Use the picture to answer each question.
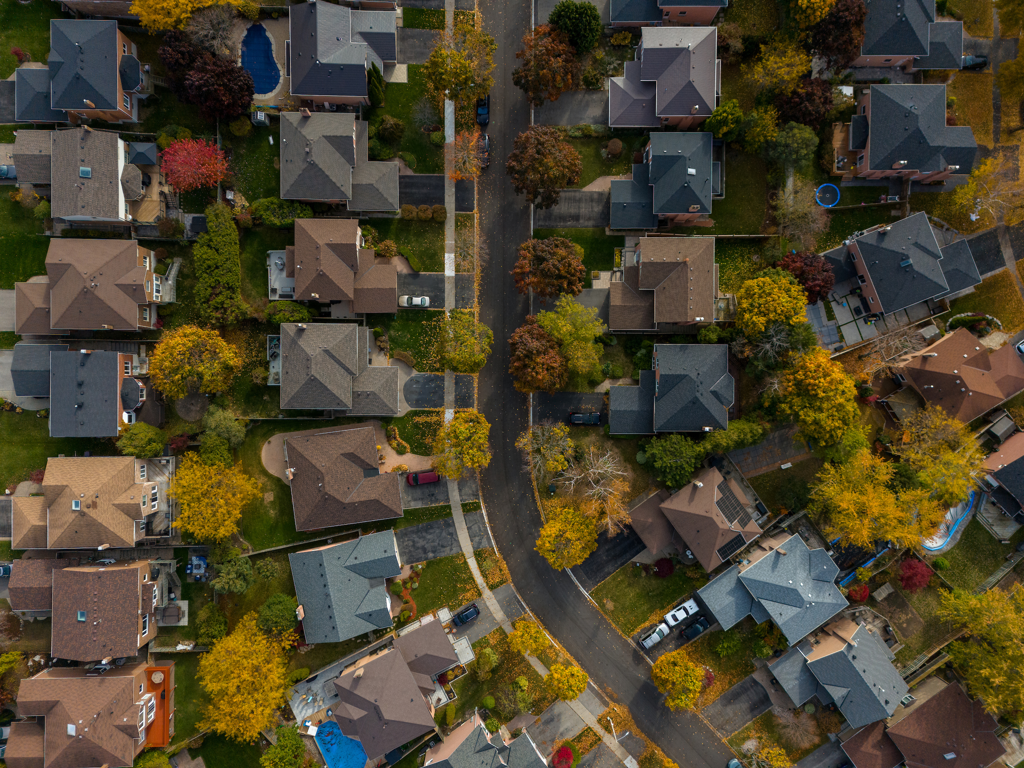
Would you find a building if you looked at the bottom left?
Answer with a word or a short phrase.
Yes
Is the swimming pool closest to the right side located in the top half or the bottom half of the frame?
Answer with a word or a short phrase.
bottom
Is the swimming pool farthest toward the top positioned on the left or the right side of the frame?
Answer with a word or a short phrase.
left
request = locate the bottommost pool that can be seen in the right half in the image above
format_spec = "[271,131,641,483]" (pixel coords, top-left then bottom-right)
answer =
[828,531,893,581]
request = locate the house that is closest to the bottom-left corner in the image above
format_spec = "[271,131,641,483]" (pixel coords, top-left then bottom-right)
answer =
[0,666,150,768]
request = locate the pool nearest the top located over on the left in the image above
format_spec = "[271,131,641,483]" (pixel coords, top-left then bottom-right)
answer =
[237,19,285,99]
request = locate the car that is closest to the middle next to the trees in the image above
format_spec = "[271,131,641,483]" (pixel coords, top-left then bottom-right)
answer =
[570,412,600,426]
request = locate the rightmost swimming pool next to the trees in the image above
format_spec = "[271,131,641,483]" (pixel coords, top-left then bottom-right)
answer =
[918,488,978,553]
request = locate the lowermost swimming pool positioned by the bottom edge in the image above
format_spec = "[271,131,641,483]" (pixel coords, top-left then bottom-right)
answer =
[312,721,372,768]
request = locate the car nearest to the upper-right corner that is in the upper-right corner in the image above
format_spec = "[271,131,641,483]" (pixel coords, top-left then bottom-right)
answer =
[963,54,990,70]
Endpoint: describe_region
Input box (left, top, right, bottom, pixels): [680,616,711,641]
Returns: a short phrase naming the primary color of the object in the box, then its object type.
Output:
black car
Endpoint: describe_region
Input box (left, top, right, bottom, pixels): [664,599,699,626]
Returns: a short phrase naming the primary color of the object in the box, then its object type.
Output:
white car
